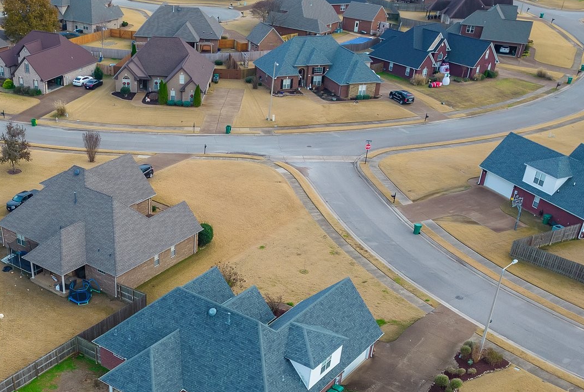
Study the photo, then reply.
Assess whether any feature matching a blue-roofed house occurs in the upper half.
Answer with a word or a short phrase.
Yes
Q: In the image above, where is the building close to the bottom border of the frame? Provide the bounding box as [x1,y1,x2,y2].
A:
[92,244,384,392]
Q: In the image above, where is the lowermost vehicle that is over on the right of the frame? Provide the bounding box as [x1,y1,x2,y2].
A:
[387,89,417,104]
